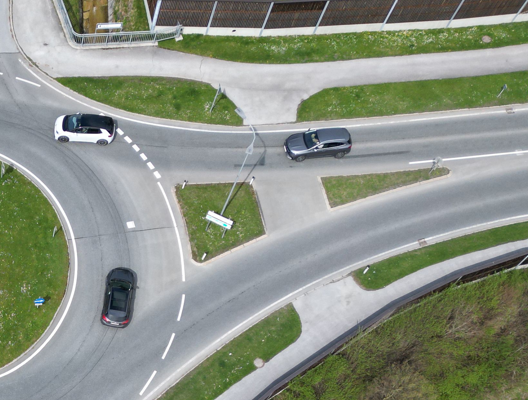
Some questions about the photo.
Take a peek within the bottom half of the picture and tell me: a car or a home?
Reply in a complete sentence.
There is a car within the bottom half of the picture.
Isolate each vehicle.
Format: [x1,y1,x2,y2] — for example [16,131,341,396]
[285,126,358,162]
[101,264,139,328]
[54,113,114,146]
